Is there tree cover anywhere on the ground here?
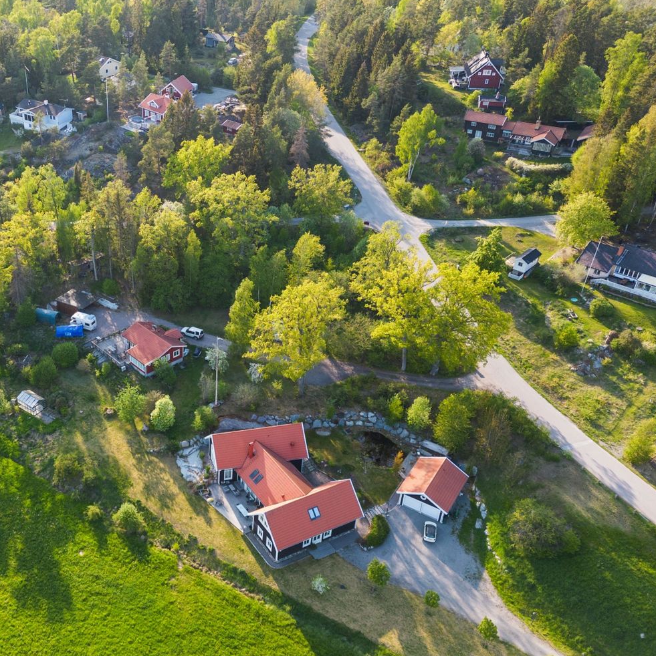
Yes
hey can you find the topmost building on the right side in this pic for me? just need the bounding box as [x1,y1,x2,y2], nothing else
[449,50,503,86]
